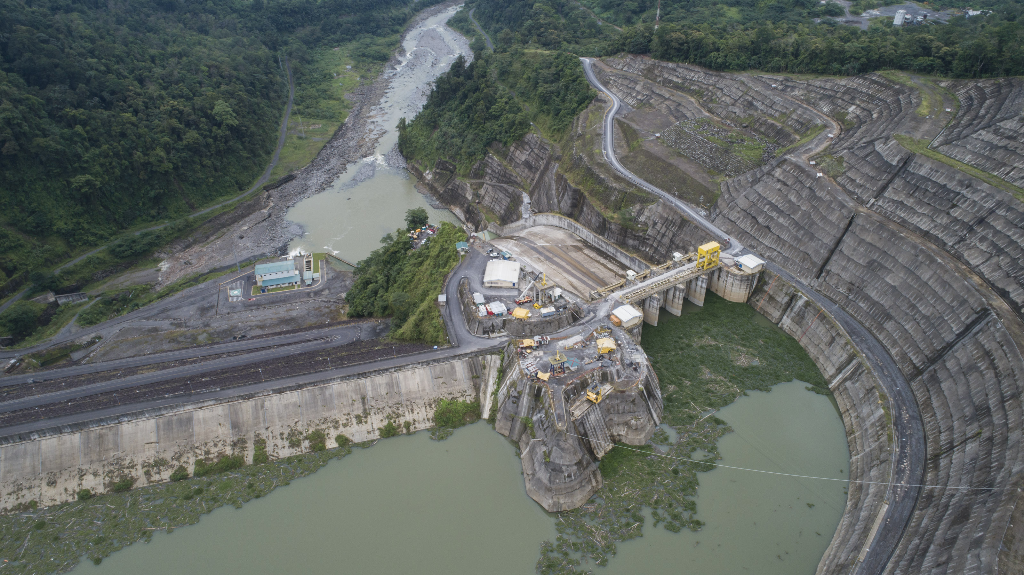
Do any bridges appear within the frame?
Yes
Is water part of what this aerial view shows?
Yes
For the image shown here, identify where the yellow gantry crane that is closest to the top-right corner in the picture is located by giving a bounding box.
[698,240,723,271]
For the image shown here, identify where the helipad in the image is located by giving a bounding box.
[228,281,244,301]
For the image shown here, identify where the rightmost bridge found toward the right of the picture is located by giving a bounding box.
[586,256,725,311]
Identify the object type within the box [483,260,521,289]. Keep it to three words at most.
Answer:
building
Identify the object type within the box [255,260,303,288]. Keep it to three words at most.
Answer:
building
